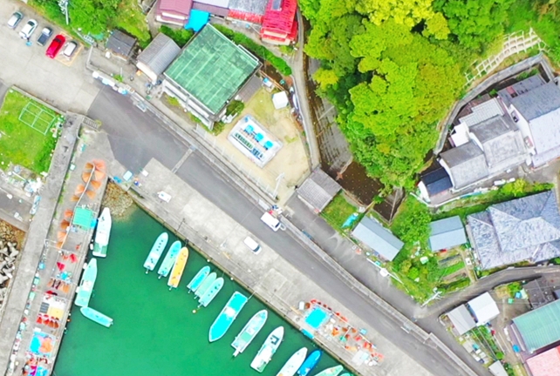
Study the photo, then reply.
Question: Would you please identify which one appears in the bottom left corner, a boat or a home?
boat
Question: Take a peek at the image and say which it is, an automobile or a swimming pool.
automobile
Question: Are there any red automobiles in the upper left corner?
Yes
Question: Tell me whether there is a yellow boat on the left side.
Yes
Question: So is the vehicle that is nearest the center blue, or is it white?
white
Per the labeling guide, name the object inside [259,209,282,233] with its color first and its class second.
white vehicle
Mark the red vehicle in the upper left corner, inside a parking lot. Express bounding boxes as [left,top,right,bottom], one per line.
[45,34,68,61]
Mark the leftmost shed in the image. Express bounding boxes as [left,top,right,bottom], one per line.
[104,28,138,65]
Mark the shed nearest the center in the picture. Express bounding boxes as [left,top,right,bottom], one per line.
[295,167,343,215]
